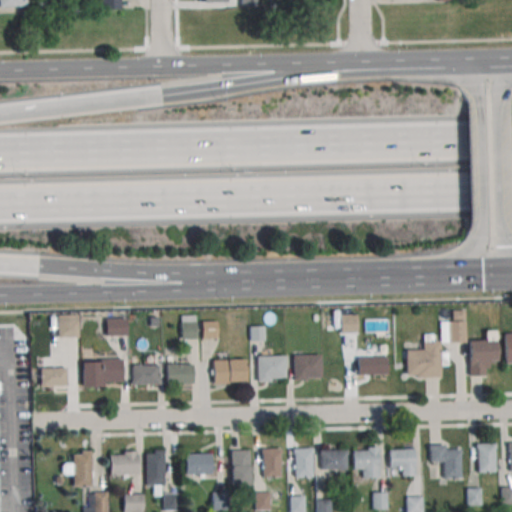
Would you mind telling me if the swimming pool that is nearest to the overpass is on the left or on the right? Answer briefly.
right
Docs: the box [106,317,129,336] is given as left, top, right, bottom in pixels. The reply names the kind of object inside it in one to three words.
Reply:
building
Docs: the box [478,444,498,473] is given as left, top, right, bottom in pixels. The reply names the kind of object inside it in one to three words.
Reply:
house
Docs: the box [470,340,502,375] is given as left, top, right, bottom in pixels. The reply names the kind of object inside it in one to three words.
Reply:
house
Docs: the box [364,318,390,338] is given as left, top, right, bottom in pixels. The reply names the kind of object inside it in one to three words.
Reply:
swimming pool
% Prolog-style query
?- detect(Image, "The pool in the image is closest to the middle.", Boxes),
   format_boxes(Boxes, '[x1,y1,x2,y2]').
[263,312,278,326]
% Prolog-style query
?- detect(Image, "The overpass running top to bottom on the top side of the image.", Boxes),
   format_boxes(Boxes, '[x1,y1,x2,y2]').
[420,74,512,260]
